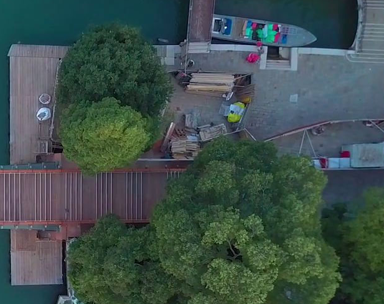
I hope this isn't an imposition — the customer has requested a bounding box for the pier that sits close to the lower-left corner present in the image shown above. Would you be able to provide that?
[9,232,63,284]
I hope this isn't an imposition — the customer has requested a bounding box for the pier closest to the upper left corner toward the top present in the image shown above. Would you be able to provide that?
[9,55,61,164]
